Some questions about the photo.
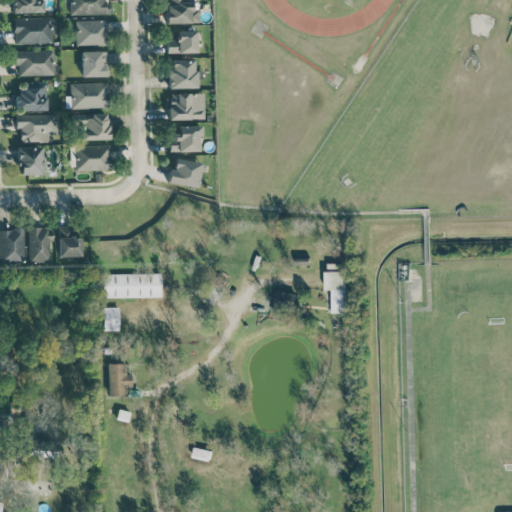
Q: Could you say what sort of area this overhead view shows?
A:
sports ground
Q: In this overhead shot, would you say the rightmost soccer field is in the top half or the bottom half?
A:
bottom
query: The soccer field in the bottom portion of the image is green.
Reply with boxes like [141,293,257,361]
[416,264,512,512]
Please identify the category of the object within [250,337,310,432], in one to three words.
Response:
pond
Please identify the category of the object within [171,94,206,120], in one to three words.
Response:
house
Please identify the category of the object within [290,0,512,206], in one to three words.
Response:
sports field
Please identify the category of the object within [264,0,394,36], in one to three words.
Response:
running track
